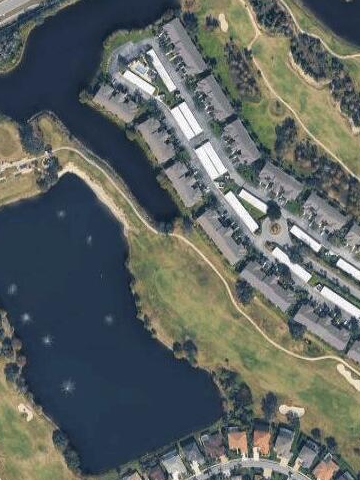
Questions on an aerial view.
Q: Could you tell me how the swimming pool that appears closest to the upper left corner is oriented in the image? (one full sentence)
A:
In this picture, the swimming pool that appears closest to the upper left corner is oriented diagonally.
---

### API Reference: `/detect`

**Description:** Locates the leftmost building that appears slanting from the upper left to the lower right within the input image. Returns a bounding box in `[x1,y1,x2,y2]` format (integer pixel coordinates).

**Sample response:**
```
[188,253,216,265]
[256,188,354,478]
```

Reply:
[93,84,138,123]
